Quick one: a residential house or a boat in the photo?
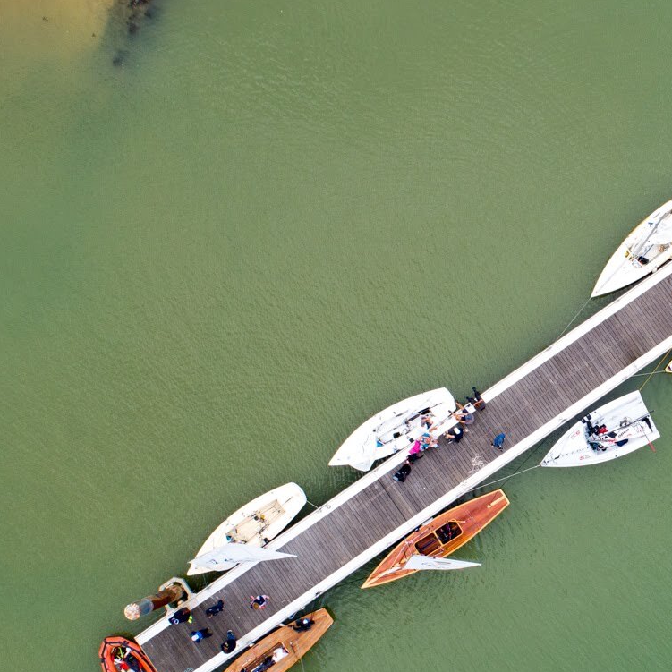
boat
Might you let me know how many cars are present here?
none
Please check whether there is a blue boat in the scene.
No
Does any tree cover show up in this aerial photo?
No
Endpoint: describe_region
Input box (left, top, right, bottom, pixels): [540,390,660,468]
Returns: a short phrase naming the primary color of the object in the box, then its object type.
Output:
white boat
